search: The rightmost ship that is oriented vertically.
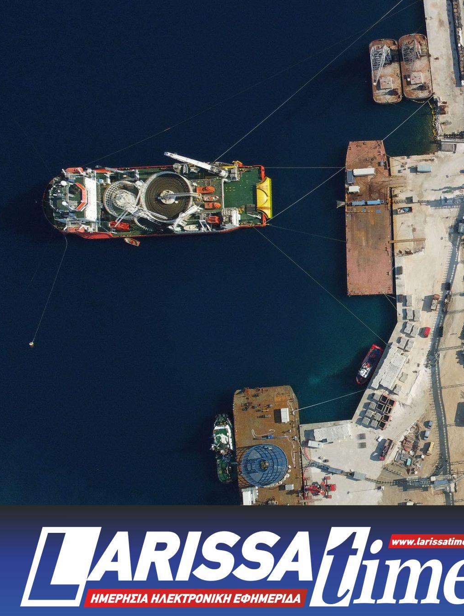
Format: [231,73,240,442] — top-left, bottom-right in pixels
[399,34,432,99]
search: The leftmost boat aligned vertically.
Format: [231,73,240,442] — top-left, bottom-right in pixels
[213,415,238,482]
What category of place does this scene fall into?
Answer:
port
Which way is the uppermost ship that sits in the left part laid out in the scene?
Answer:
from left to right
